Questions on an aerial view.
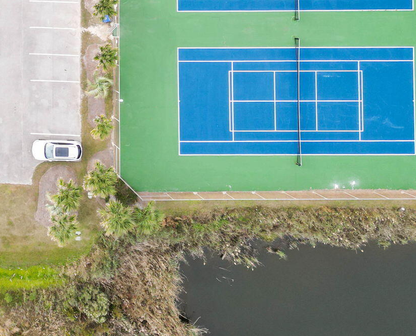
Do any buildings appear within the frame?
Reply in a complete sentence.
No, I can't see a single building in this photo.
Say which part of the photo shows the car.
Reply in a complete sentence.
The car is located in the left region of the scene.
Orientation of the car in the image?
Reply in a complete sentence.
What the image shows is the car lying horizontally.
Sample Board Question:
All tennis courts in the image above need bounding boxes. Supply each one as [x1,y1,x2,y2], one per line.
[117,29,416,191]
[117,0,416,29]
